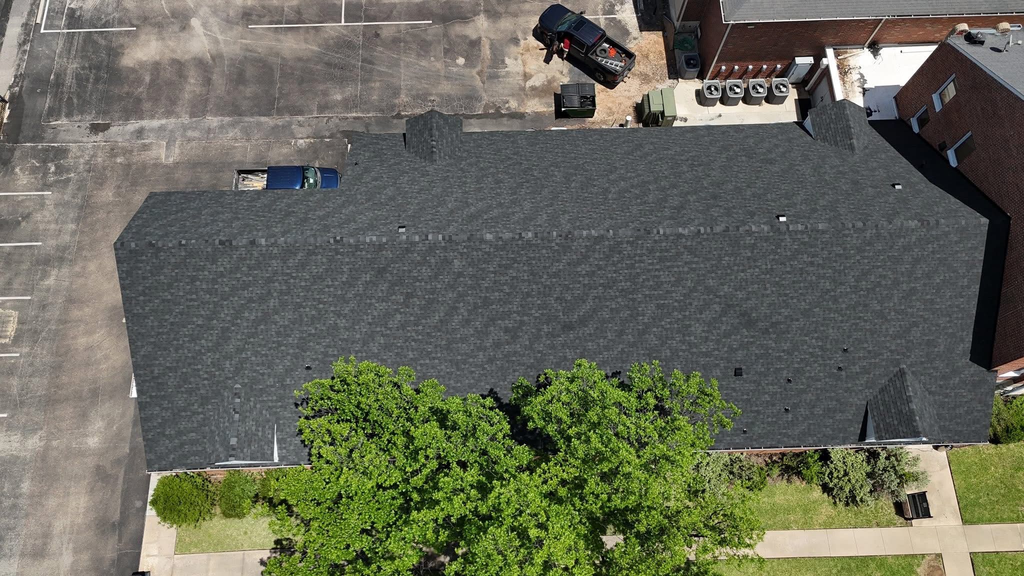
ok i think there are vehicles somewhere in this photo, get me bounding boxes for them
[537,2,641,88]
[234,157,344,188]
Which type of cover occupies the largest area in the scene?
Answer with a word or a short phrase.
buildings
